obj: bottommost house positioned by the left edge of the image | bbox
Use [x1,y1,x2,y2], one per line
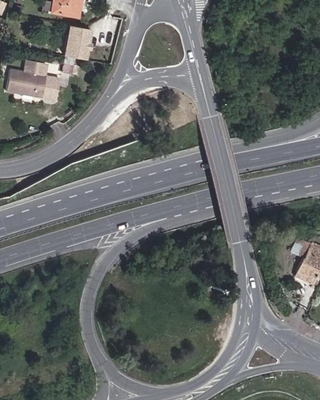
[6,60,68,104]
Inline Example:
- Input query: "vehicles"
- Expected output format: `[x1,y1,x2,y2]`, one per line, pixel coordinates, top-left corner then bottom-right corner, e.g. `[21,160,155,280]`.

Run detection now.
[91,36,96,46]
[249,278,256,288]
[198,163,208,170]
[187,50,194,62]
[106,32,112,44]
[116,224,128,230]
